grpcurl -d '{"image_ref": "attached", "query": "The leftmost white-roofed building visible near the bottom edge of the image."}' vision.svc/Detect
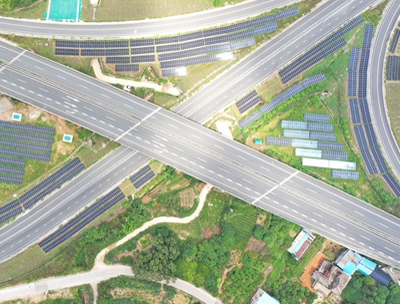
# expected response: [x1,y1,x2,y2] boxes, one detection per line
[245,286,280,304]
